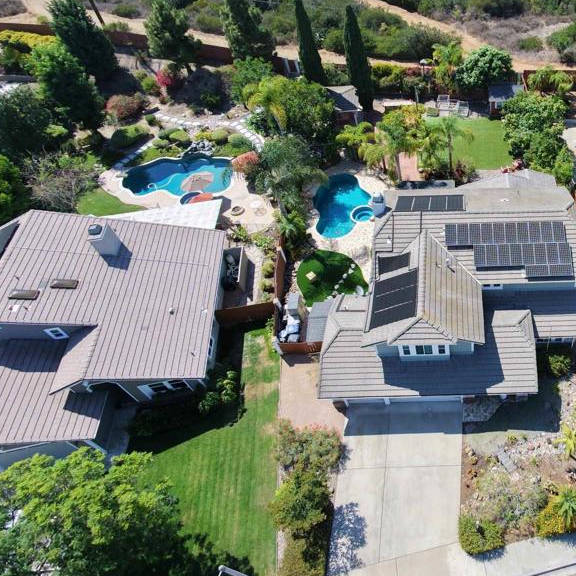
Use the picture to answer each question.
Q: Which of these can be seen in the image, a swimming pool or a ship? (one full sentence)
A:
There is a swimming pool in the scene.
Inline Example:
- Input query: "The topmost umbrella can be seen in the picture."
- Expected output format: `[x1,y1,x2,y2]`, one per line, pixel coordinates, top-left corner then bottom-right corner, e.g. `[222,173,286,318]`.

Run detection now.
[179,169,220,201]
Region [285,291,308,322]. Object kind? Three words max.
shed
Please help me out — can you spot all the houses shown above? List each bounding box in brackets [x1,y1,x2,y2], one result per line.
[0,208,228,469]
[318,169,576,410]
